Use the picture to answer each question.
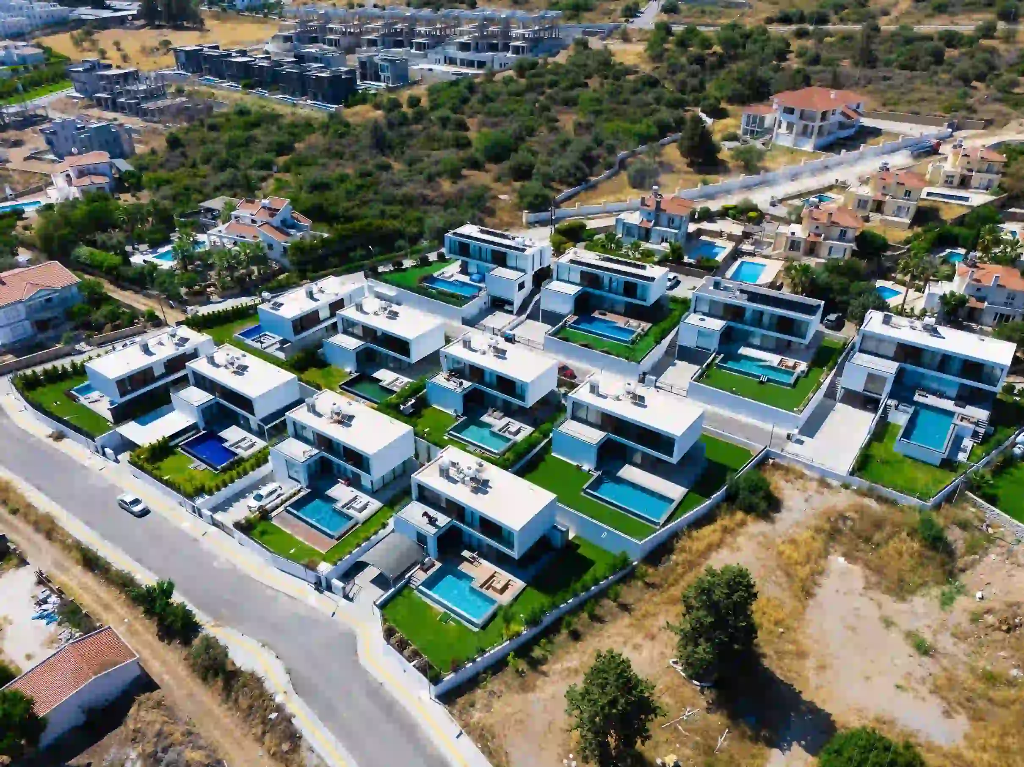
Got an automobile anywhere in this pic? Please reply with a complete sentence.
Yes, the image includes an automobile.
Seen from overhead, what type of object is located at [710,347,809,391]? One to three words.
swimming pool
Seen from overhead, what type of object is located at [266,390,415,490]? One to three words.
house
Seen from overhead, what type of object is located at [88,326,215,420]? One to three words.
house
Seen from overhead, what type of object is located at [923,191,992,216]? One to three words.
swimming pool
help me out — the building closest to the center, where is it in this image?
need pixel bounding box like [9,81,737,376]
[424,332,557,417]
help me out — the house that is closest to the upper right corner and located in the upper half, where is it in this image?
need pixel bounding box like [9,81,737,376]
[923,143,1008,195]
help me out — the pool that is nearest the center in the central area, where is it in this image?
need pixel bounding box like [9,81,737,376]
[441,416,534,461]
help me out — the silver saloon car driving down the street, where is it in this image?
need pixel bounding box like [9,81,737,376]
[111,489,151,515]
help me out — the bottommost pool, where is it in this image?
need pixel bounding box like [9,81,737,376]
[410,555,526,635]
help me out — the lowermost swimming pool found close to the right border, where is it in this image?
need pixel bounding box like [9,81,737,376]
[890,395,990,471]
